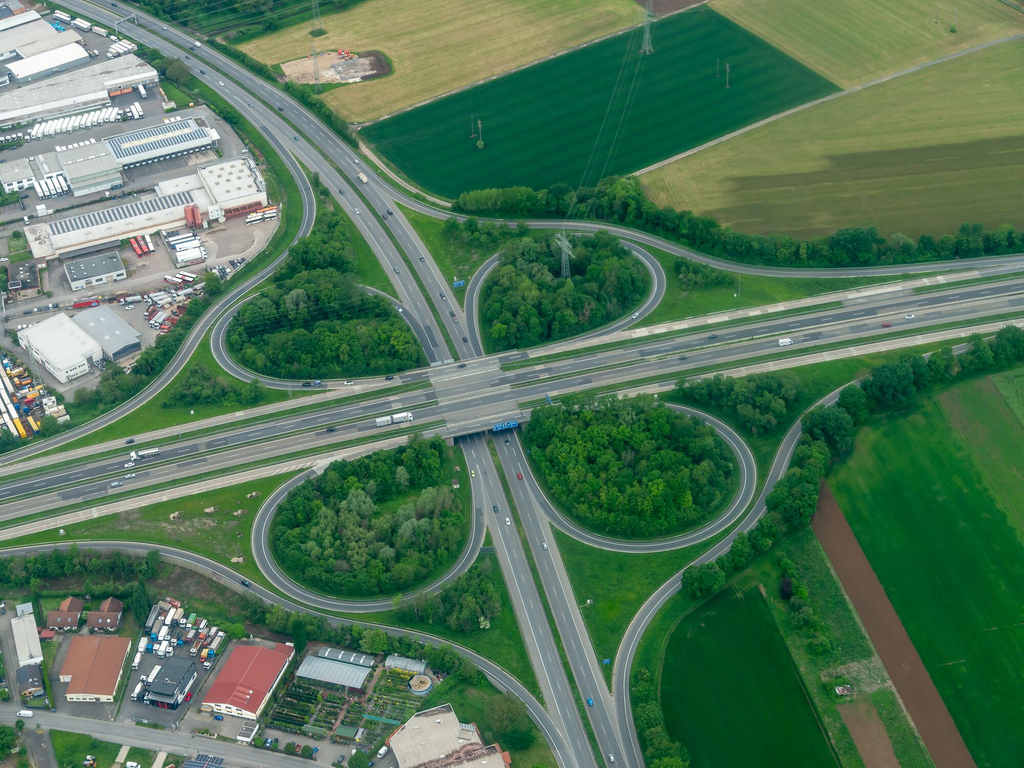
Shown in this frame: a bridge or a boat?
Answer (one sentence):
Of the two, only a bridge appears.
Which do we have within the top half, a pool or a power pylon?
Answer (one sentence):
Looking within the top half, you will find a power pylon.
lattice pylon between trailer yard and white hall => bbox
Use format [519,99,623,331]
[23,333,47,407]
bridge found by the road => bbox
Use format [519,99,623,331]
[413,347,527,442]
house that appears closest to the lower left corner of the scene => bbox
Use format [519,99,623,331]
[16,662,45,702]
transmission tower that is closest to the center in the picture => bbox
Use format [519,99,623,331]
[548,228,582,281]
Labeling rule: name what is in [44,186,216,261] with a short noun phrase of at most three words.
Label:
building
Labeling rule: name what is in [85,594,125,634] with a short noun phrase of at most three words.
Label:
house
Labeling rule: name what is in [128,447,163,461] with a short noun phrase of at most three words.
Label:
vehicle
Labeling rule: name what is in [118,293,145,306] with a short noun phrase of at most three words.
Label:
vehicle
